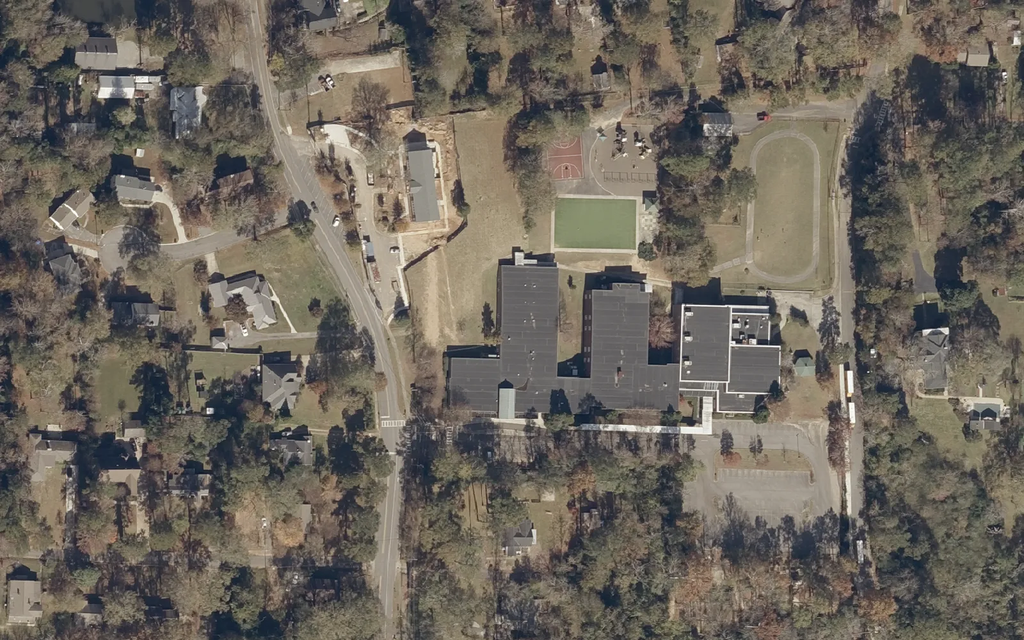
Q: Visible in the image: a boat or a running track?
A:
running track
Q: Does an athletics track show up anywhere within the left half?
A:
No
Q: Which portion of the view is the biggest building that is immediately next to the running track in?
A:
center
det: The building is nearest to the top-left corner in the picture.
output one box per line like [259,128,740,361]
[74,38,119,71]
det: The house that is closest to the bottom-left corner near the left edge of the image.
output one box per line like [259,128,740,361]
[8,580,42,623]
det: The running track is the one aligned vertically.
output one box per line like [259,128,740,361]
[748,130,820,283]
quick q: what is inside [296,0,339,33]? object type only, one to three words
house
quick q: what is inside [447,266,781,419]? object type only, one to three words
building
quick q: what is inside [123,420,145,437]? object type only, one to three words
shed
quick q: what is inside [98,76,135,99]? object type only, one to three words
building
